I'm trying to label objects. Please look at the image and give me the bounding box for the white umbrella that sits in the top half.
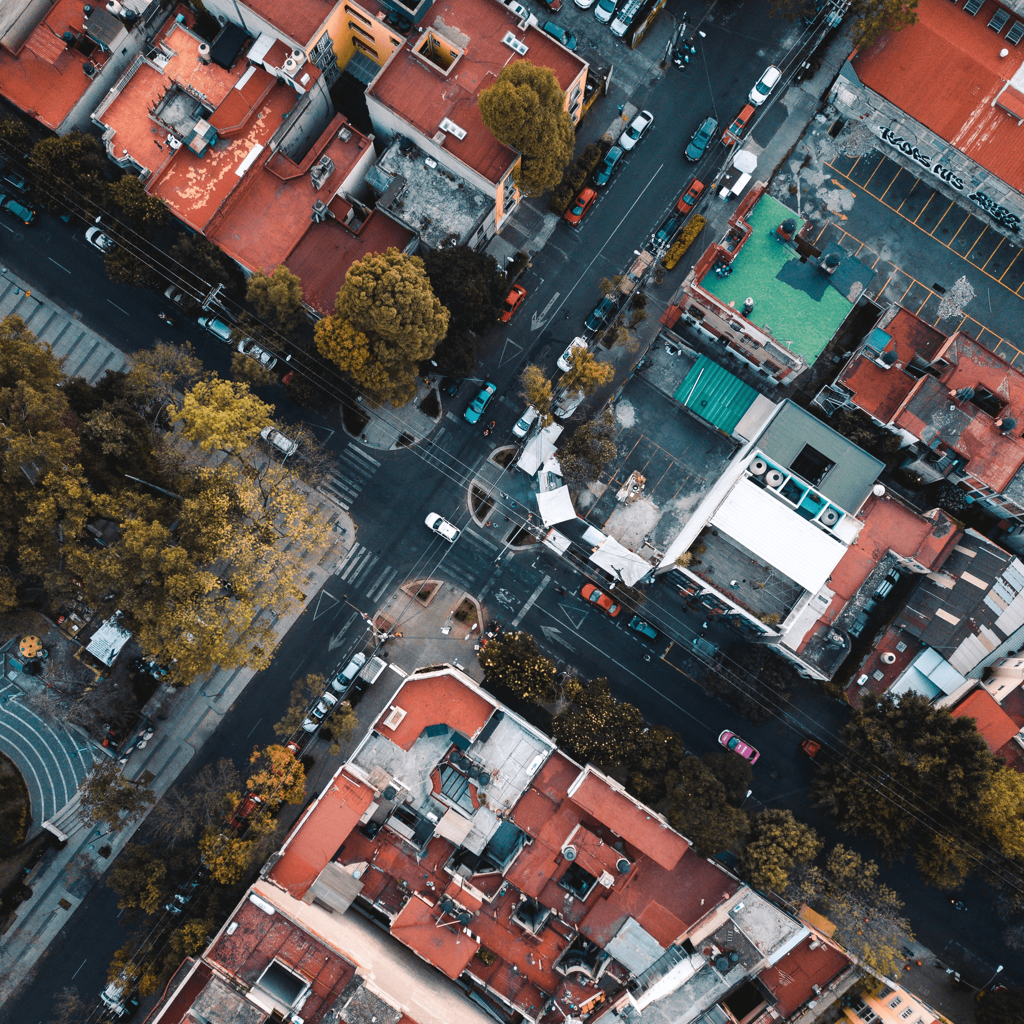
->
[728,148,759,178]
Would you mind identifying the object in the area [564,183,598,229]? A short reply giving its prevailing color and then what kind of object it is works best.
red car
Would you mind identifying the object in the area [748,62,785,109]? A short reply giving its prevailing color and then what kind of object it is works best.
white car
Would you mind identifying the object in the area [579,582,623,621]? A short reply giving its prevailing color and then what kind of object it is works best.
red car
